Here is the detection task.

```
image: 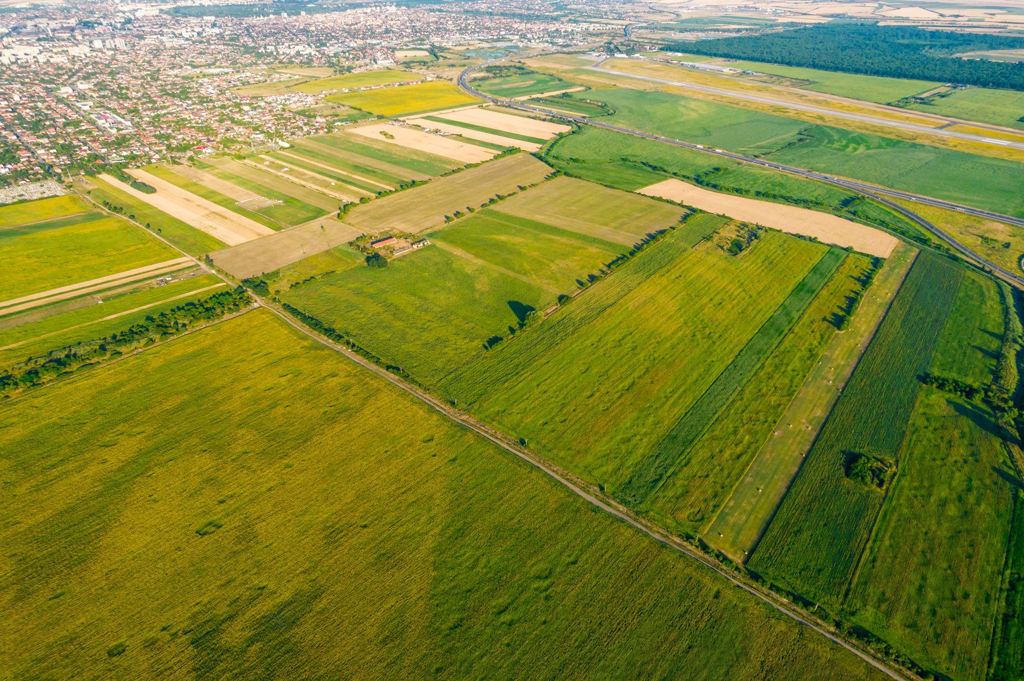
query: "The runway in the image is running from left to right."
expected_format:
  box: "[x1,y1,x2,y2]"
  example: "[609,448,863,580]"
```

[578,66,1024,149]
